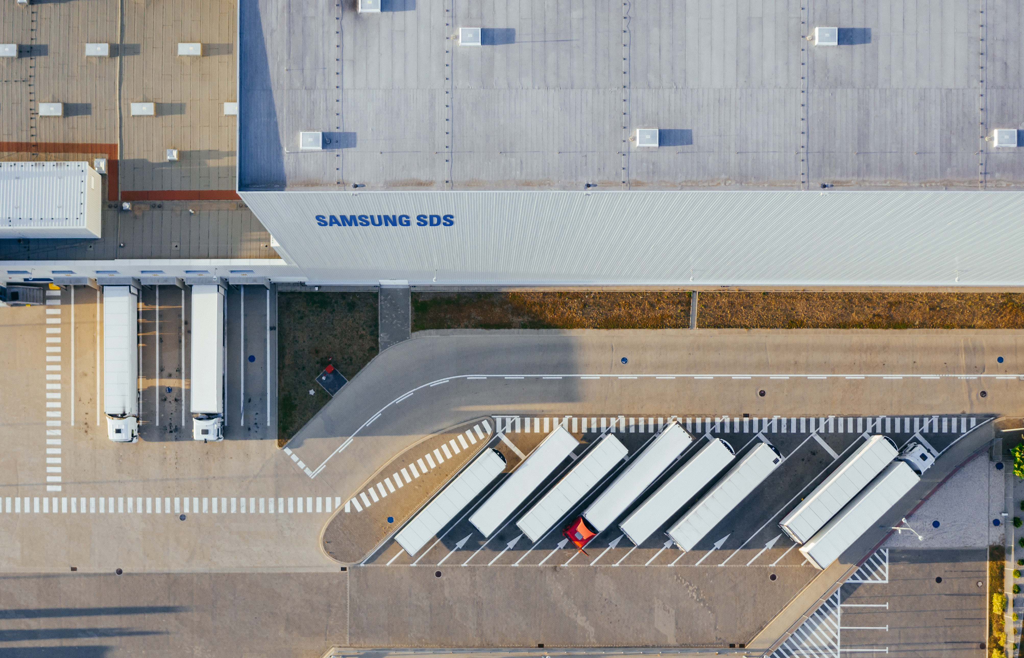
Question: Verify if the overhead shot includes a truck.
Yes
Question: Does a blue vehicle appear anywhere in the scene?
No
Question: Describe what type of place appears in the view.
industrial area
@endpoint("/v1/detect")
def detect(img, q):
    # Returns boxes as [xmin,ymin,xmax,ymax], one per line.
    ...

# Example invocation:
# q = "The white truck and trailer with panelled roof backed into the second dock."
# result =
[104,285,139,446]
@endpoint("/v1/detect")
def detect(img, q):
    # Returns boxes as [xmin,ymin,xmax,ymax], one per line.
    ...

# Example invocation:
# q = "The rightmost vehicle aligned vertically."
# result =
[191,285,224,444]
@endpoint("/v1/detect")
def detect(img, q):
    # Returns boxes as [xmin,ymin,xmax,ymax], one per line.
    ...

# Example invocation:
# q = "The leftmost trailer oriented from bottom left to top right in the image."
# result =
[394,448,506,556]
